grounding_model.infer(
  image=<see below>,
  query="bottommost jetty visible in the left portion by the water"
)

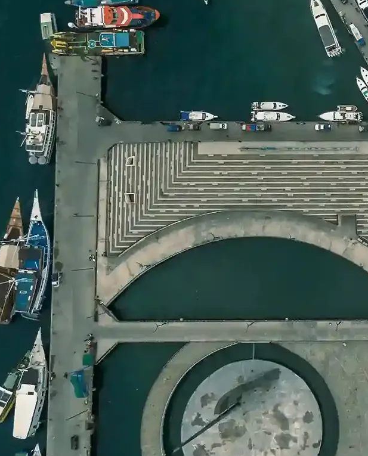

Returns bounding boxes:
[46,56,105,456]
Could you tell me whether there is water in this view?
Yes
